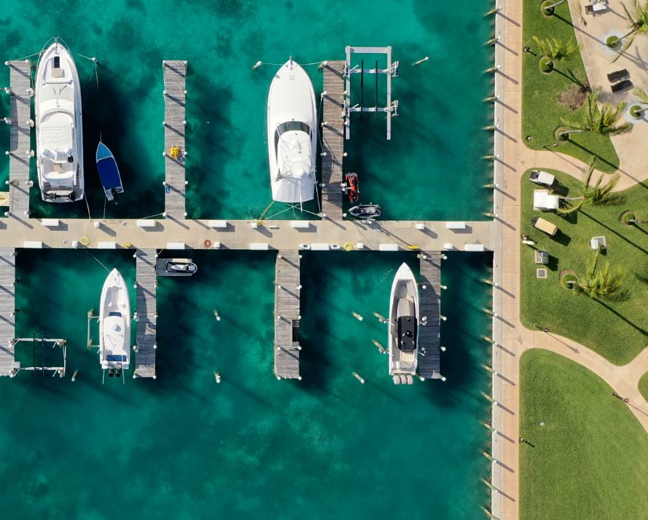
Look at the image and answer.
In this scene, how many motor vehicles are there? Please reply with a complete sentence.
My tally gives 2 motor vehicles in this view.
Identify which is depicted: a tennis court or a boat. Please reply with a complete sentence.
I can see a boat in this picture.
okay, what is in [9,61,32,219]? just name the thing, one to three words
pier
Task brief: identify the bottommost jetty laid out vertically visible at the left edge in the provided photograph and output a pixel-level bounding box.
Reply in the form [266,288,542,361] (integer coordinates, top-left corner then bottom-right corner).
[0,248,16,375]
